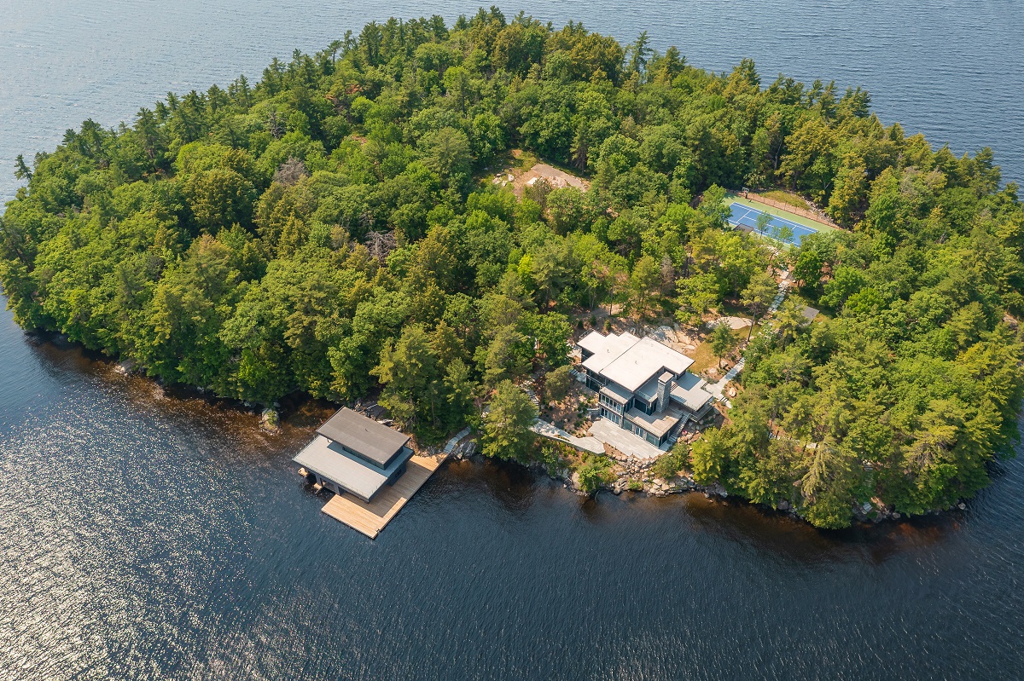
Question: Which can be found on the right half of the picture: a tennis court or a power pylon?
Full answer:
Visible on the right half of the picture is a tennis court.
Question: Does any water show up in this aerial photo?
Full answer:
Yes, there is water in the image.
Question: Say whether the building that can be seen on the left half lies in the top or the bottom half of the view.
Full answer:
The bottom half of the photo is where the building that can be seen on the left half is.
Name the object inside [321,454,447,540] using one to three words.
pier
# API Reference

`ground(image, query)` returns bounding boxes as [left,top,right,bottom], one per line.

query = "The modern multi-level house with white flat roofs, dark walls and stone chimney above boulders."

[573,331,725,447]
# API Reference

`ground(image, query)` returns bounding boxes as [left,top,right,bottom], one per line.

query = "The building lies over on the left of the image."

[292,407,413,501]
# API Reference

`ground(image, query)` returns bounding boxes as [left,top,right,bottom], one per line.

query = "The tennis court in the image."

[705,192,835,256]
